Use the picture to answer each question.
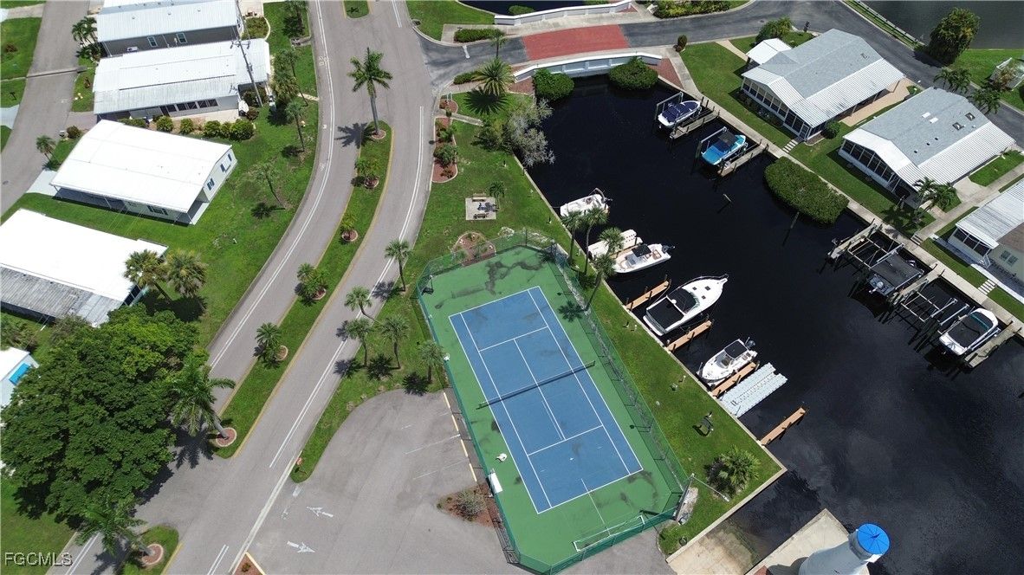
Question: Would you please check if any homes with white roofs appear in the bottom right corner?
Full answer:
No, there's no home with a white roof to be seen in the bottom right corner.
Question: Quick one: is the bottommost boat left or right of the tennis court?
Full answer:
You can see the bottommost boat positioned to the right of the tennis court.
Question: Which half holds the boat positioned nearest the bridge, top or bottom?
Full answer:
The boat positioned nearest the bridge is in the top half of the image.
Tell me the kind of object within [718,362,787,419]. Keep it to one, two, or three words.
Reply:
pier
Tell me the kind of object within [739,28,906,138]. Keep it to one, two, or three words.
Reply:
house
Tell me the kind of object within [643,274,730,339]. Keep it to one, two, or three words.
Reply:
boat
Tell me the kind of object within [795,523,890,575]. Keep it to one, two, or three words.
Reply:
lighthouse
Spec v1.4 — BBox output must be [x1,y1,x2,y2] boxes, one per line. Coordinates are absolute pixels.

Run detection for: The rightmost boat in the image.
[936,312,993,358]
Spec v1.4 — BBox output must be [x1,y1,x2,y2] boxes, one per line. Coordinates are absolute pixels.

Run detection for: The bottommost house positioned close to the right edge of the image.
[948,175,1024,278]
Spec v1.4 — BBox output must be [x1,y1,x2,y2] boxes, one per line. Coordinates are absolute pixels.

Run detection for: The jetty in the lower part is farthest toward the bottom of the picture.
[758,404,809,445]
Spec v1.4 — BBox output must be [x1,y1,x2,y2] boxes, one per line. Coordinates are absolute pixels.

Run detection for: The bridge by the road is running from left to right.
[494,0,662,79]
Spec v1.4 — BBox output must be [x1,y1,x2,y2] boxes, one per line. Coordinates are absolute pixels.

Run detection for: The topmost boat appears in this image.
[657,100,700,129]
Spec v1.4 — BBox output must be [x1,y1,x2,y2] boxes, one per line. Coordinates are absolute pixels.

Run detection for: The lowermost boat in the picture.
[701,342,759,383]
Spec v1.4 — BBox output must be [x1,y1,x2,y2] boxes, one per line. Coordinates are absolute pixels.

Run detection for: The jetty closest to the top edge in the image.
[668,108,720,145]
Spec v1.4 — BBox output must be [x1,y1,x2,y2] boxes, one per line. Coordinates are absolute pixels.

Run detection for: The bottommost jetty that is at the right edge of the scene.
[958,319,1024,373]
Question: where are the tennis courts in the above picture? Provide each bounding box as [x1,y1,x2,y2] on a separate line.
[418,248,684,565]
